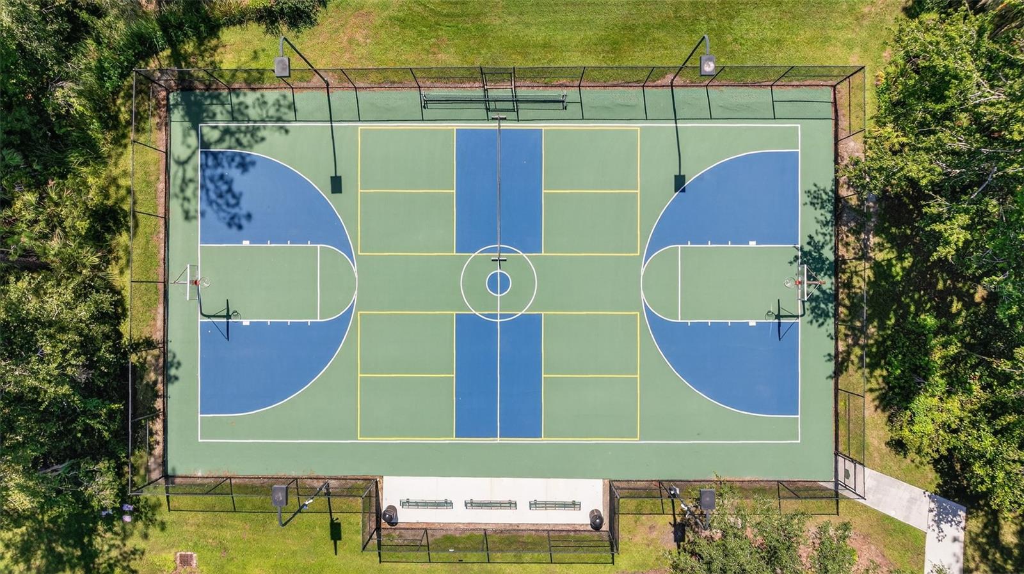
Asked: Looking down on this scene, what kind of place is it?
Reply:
sports ground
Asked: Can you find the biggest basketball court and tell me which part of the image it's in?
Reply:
center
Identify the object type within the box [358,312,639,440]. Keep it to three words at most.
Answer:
sports court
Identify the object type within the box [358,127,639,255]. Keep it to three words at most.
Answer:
sports court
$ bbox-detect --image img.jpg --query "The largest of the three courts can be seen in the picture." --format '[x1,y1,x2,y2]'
[167,87,834,481]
